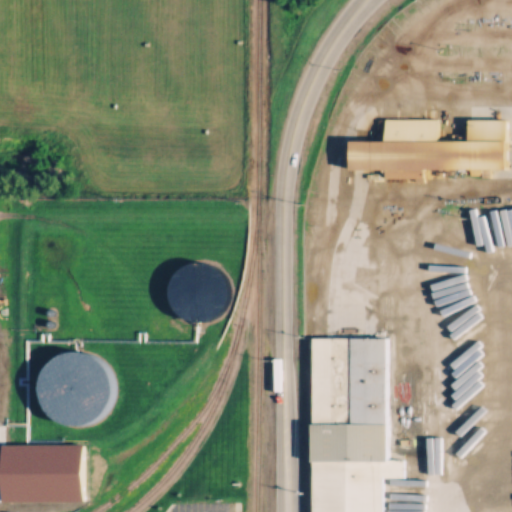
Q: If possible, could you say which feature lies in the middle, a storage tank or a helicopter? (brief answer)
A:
storage tank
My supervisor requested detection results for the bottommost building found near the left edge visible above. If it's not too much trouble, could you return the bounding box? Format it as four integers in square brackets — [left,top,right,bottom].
[0,444,88,503]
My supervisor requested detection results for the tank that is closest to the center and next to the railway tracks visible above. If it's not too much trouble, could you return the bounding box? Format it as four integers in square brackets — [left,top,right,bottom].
[168,261,234,326]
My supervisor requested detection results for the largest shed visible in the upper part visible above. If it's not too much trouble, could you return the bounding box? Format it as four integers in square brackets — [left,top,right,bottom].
[347,119,508,183]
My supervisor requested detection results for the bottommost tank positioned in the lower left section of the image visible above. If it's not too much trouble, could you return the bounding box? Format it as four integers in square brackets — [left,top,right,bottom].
[38,351,116,428]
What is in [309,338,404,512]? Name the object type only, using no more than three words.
building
